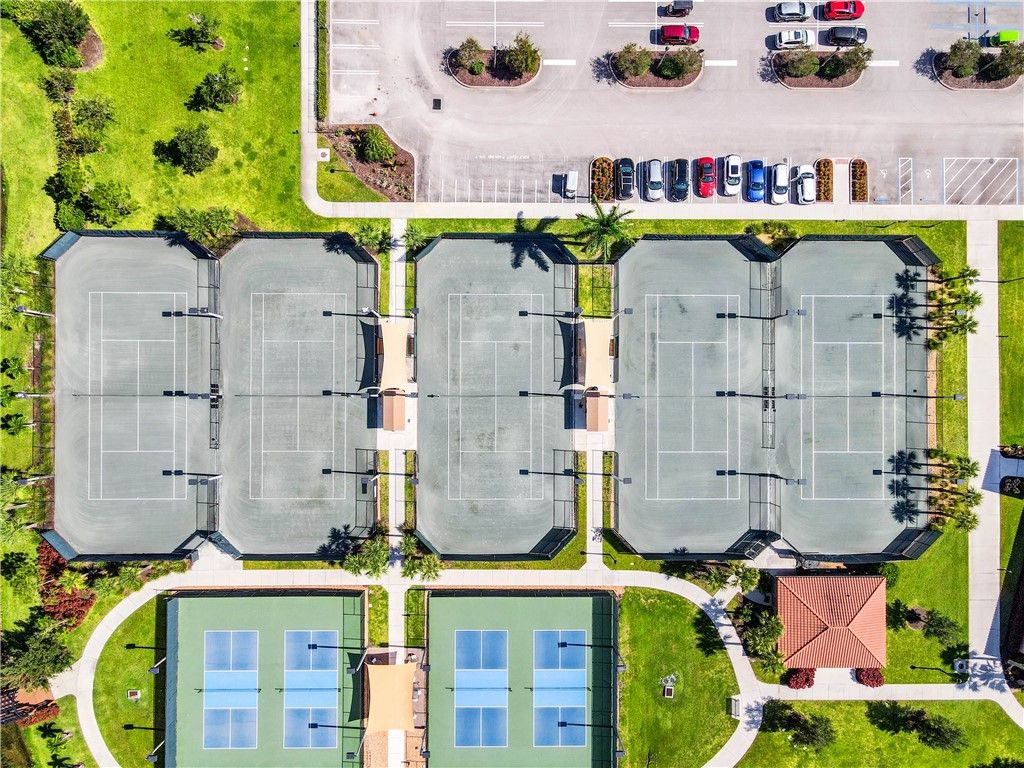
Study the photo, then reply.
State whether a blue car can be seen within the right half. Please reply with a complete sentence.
Yes, I can see a blue car within the right half.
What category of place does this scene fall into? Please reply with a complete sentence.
This image shows a sports ground.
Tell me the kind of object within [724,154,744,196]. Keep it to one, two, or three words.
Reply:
car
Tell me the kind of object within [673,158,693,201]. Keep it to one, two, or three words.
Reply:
car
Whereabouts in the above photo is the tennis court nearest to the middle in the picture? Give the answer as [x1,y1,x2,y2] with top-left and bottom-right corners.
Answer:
[416,239,577,554]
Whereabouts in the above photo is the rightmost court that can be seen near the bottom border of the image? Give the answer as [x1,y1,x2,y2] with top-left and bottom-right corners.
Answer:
[521,597,612,768]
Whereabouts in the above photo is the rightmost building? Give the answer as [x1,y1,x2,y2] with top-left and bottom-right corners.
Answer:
[773,574,887,669]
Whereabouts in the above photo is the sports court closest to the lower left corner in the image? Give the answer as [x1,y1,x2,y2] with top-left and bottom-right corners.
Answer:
[178,597,272,768]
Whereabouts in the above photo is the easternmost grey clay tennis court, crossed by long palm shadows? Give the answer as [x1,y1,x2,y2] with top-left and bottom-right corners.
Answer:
[770,241,927,554]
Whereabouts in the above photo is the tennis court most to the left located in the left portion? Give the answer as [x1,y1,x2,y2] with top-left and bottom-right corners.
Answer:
[54,237,219,554]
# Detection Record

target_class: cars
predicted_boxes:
[746,159,767,201]
[618,158,638,200]
[791,164,819,204]
[824,0,864,20]
[660,22,698,45]
[828,24,866,46]
[778,28,816,49]
[724,154,744,196]
[770,163,792,204]
[776,0,813,22]
[647,159,667,201]
[673,158,693,201]
[698,157,718,196]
